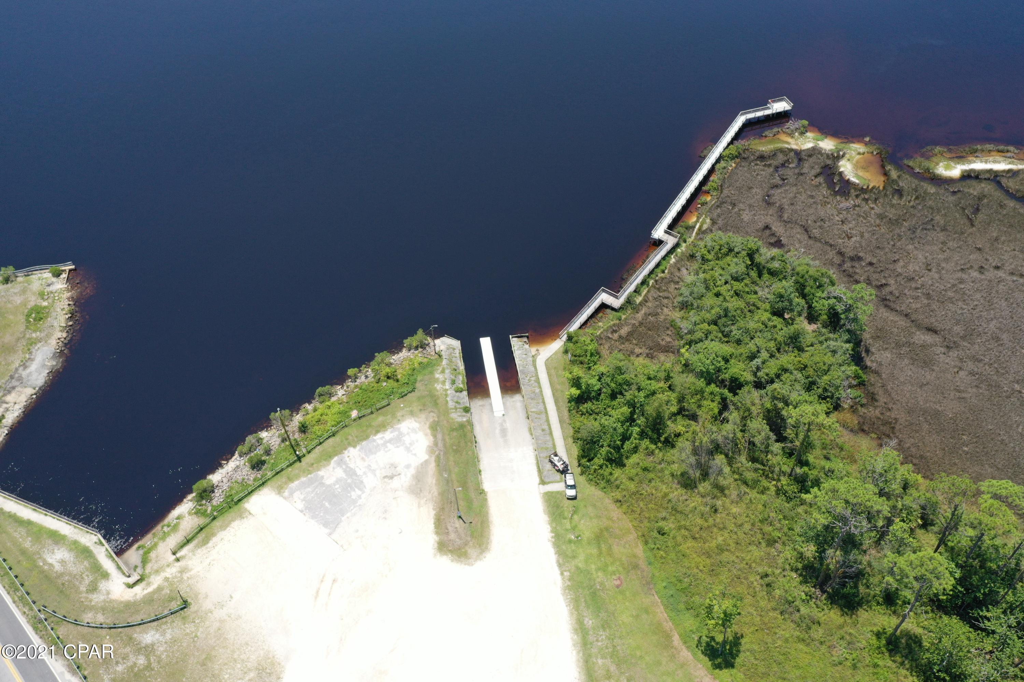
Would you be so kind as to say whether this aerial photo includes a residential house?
No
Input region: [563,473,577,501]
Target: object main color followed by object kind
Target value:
white car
